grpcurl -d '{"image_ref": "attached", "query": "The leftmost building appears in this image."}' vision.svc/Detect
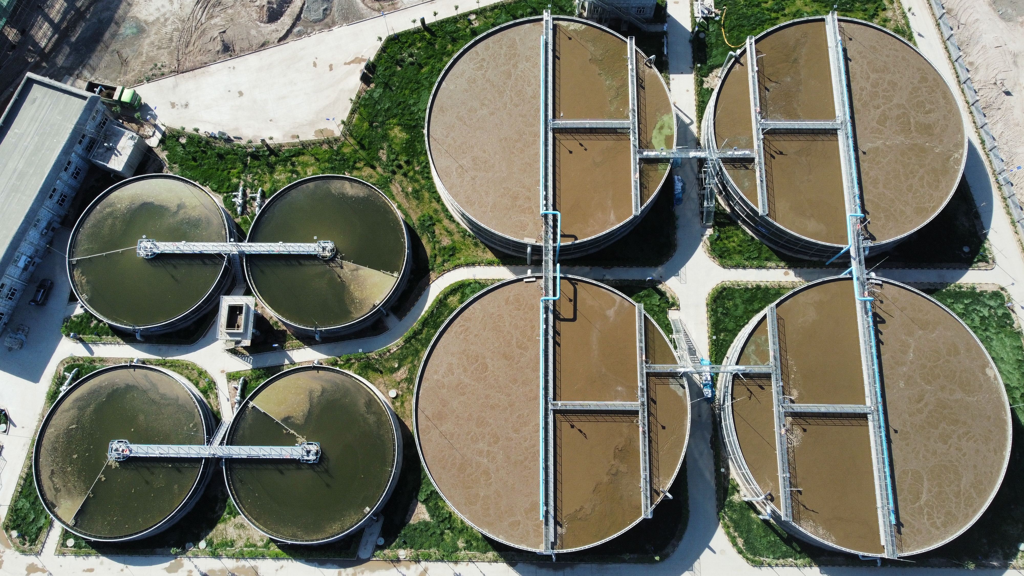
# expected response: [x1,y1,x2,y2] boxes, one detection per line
[0,63,117,333]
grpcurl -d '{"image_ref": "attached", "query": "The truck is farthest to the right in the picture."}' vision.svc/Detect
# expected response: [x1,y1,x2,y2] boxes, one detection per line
[82,76,146,109]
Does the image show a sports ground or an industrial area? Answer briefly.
industrial area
